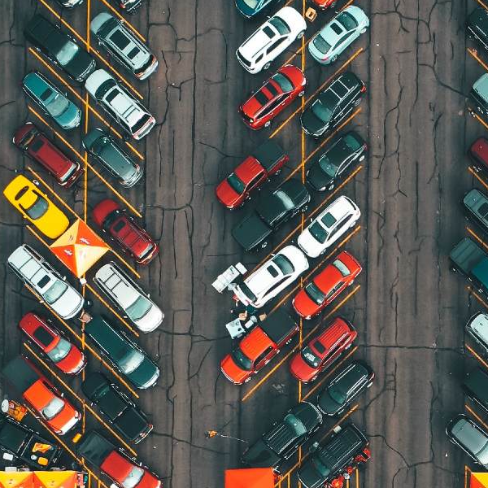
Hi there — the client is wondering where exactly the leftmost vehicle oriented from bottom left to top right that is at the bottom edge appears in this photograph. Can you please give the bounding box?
[238,402,323,469]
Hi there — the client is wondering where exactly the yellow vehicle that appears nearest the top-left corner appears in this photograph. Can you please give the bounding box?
[3,176,71,241]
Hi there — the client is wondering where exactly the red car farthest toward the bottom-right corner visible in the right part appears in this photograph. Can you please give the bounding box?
[292,319,358,384]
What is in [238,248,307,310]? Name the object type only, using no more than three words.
car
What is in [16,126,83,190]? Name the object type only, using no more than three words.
car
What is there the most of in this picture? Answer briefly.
paved ground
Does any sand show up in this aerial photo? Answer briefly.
No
